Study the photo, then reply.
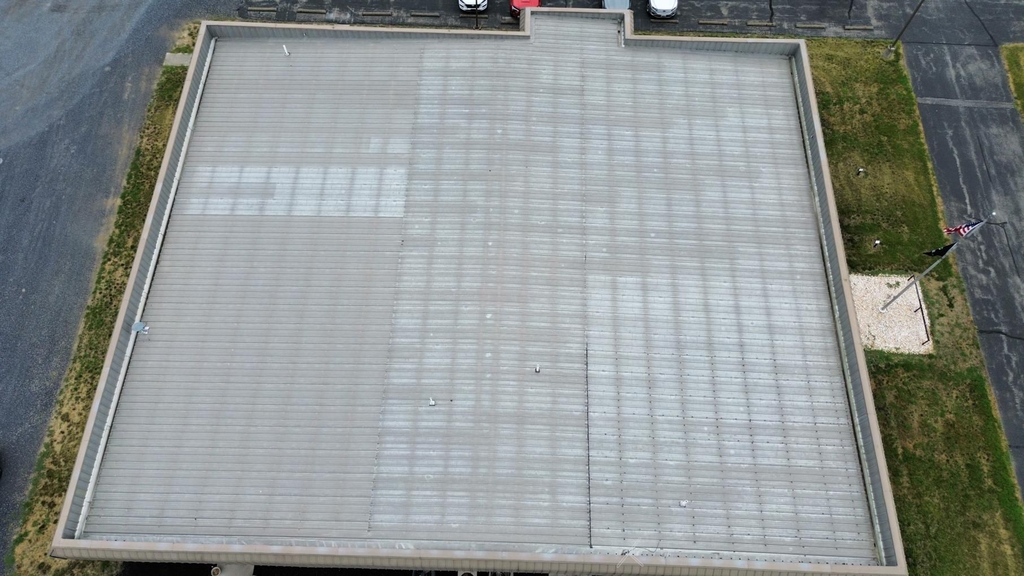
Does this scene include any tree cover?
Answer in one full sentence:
No, tree cover can't be seen anywhere here.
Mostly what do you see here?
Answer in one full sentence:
Most of the picture is covered by buildings.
